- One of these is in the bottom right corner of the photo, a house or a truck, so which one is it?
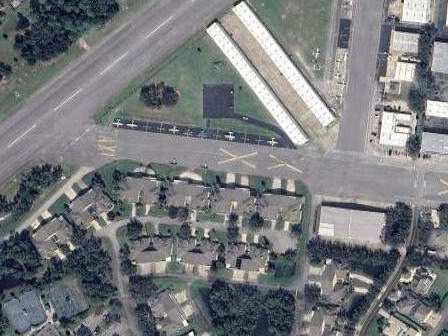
house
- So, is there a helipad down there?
No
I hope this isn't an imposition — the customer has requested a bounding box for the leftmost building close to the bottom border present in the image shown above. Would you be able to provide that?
[151,288,192,331]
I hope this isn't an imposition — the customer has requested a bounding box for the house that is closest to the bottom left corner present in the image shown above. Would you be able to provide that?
[32,217,72,256]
